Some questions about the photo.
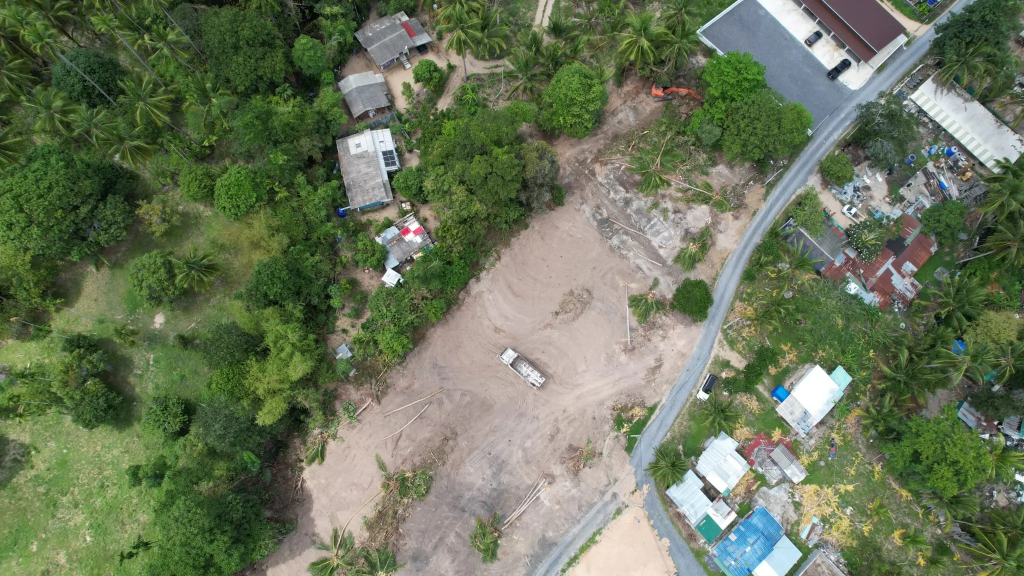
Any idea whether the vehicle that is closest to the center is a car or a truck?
truck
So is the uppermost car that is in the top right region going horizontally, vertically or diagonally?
diagonally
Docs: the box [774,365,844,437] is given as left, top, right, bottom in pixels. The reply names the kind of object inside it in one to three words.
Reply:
house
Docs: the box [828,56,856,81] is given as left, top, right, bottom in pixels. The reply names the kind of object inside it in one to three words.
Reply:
truck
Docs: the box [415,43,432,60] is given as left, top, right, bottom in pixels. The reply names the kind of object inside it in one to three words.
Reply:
car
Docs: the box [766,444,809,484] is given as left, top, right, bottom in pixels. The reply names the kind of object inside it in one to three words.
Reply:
building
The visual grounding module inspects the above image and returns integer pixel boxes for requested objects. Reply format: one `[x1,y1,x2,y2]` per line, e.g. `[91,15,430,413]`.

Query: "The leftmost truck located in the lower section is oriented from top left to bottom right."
[494,344,547,393]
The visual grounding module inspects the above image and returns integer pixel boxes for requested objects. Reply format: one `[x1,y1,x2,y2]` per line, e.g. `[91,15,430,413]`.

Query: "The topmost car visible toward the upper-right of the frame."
[804,26,828,47]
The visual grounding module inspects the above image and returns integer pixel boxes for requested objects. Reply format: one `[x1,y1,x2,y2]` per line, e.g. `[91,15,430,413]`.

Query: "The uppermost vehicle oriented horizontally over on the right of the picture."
[653,85,701,105]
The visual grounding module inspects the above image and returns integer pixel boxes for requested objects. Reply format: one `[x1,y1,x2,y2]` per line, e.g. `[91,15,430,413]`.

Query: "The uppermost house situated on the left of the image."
[355,11,431,77]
